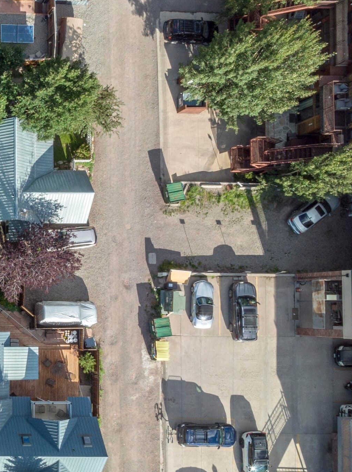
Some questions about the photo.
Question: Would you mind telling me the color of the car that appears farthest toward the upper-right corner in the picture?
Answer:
black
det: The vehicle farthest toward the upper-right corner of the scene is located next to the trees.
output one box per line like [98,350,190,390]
[158,16,217,46]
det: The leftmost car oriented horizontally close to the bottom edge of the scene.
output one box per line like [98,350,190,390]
[173,421,235,450]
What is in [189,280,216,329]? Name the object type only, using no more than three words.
car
